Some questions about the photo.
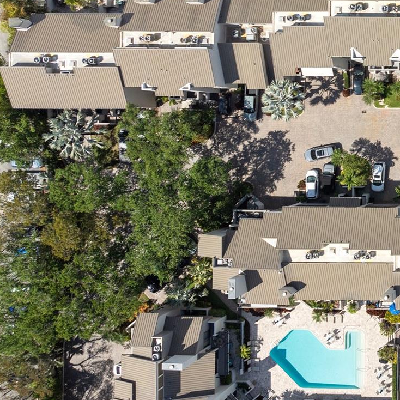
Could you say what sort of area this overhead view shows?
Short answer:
residential area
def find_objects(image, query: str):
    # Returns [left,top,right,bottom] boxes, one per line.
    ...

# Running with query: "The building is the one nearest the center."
[197,209,302,305]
